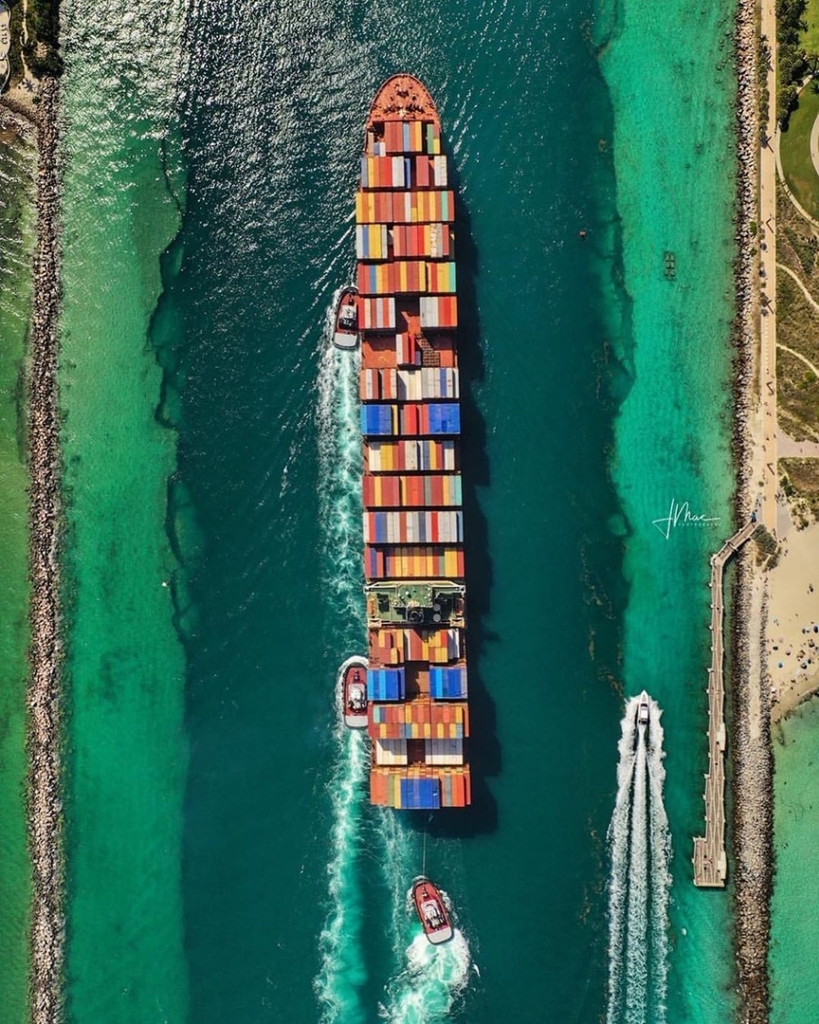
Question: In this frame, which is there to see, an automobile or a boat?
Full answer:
This aerial view contains a boat.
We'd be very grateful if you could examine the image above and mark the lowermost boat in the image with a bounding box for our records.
[413,875,452,946]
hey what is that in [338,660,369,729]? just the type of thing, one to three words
boat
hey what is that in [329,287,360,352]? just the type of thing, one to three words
boat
